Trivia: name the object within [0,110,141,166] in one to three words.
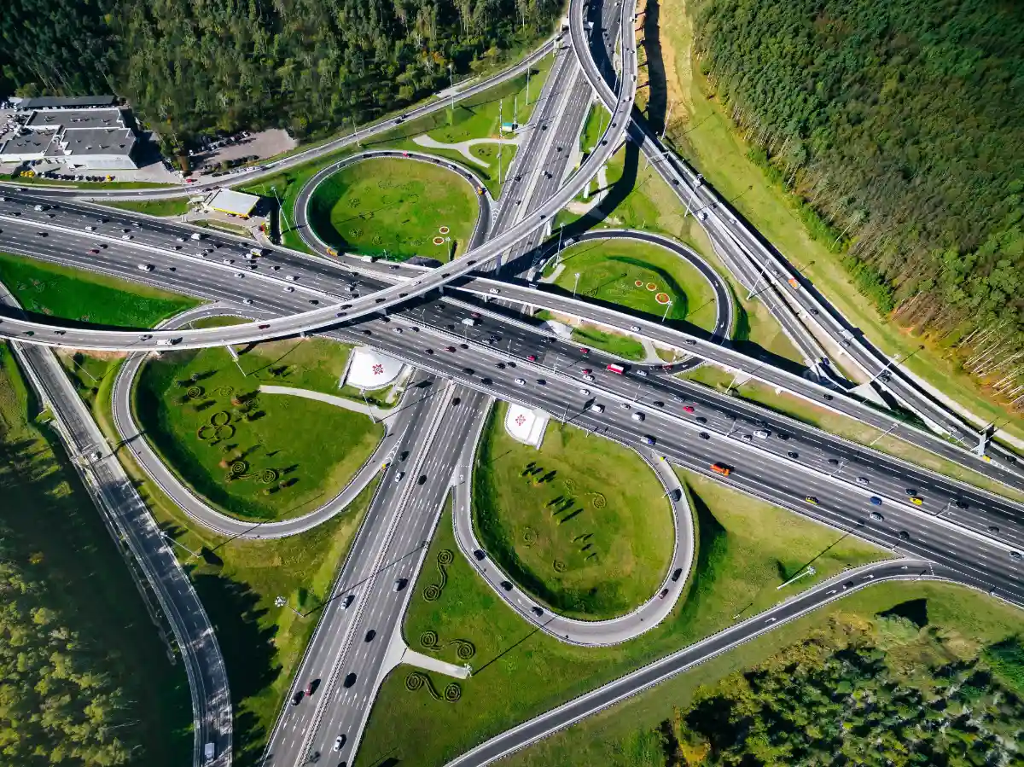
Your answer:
building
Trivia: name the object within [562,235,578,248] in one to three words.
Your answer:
vehicle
